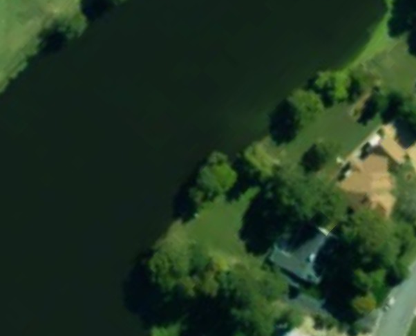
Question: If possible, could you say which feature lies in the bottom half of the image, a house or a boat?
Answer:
house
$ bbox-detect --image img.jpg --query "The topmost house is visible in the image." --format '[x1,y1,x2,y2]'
[335,121,413,219]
